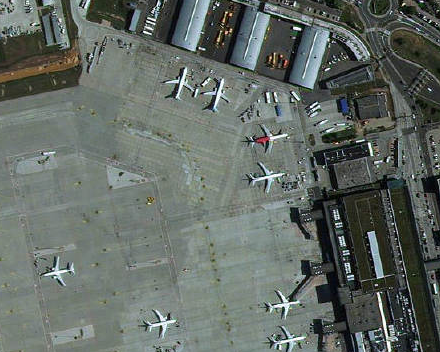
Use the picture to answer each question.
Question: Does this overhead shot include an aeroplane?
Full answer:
Yes, an aeroplane can be made out from above.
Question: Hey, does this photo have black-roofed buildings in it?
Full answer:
Yes, a black-roofed building can be made out from above.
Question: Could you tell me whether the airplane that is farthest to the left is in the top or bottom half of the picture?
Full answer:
You can find the airplane that is farthest to the left in the bottom half.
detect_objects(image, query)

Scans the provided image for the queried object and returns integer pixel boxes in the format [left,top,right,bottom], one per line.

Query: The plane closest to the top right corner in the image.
[249,121,288,156]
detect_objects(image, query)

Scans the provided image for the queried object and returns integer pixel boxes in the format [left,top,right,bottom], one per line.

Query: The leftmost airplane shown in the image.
[40,256,74,287]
